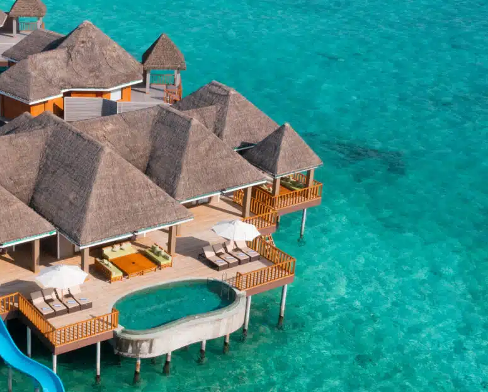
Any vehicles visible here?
No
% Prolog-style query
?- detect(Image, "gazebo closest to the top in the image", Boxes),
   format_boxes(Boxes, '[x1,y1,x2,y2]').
[11,0,46,38]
